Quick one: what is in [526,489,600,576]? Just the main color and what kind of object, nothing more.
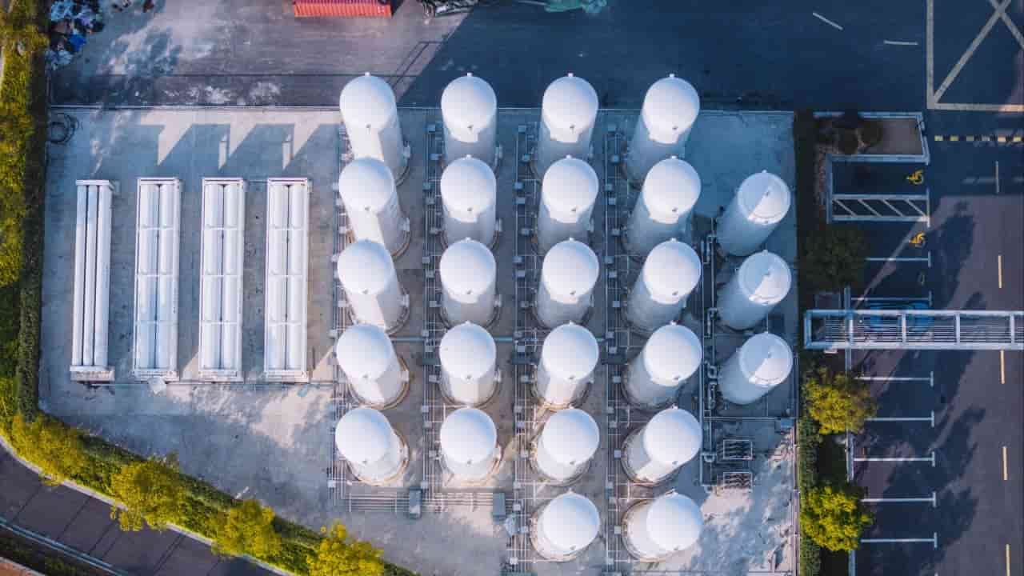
white storage tank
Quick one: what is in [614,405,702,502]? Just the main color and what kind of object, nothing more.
white storage tank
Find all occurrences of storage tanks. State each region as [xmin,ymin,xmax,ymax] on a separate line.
[526,238,599,351]
[526,489,600,576]
[526,74,599,202]
[337,320,409,419]
[339,155,411,258]
[614,405,702,502]
[338,237,410,336]
[614,490,703,576]
[435,74,502,201]
[618,75,700,202]
[526,156,599,275]
[336,404,409,501]
[432,404,501,502]
[712,248,794,332]
[340,73,411,183]
[618,156,700,276]
[434,237,502,350]
[526,405,599,503]
[526,321,599,426]
[618,238,701,350]
[433,321,502,426]
[619,321,702,426]
[715,329,798,407]
[712,168,794,258]
[434,155,502,276]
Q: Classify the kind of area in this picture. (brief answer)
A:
industrial area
